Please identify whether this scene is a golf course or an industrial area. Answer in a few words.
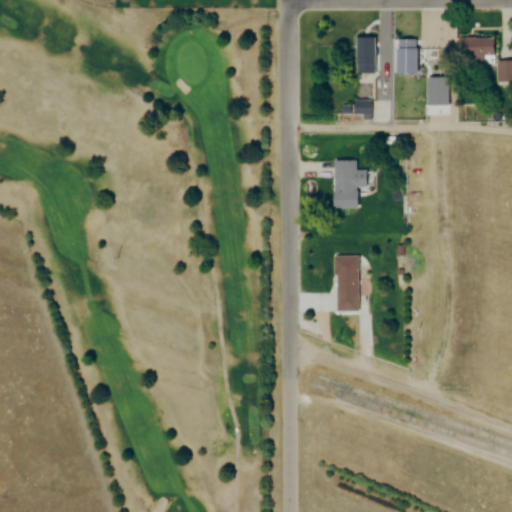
golf course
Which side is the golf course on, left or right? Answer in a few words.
left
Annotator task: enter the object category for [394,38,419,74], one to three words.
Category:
house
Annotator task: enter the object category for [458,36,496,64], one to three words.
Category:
house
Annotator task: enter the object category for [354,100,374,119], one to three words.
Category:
building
